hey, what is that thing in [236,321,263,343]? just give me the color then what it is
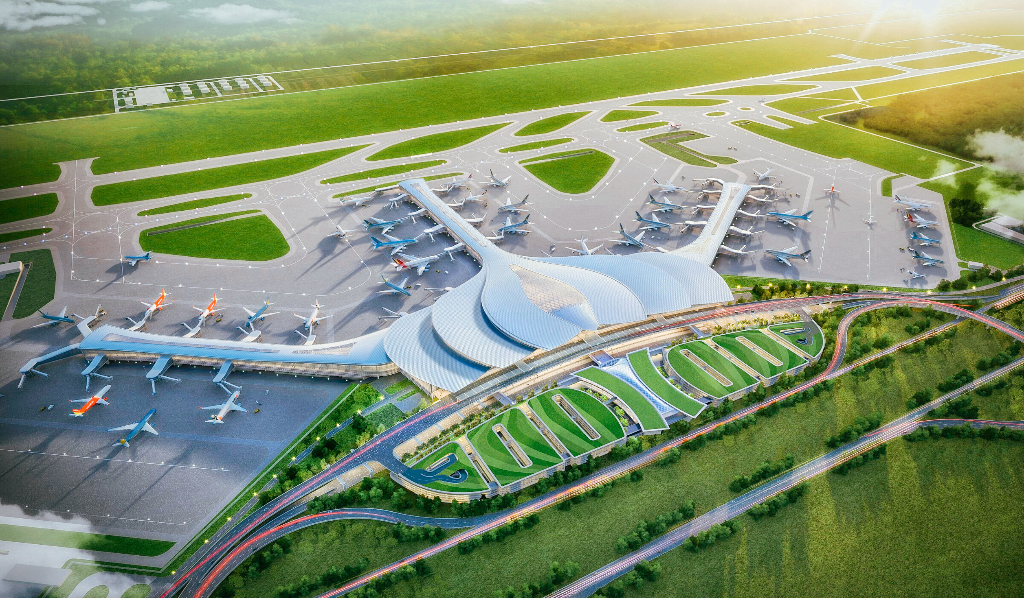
white jet bridge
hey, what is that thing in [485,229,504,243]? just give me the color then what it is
white jet bridge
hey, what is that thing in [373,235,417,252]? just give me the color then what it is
blue airplane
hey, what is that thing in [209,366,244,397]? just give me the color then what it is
blue jet bridge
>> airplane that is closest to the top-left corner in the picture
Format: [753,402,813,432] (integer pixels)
[125,253,152,265]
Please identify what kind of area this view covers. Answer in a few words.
airport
